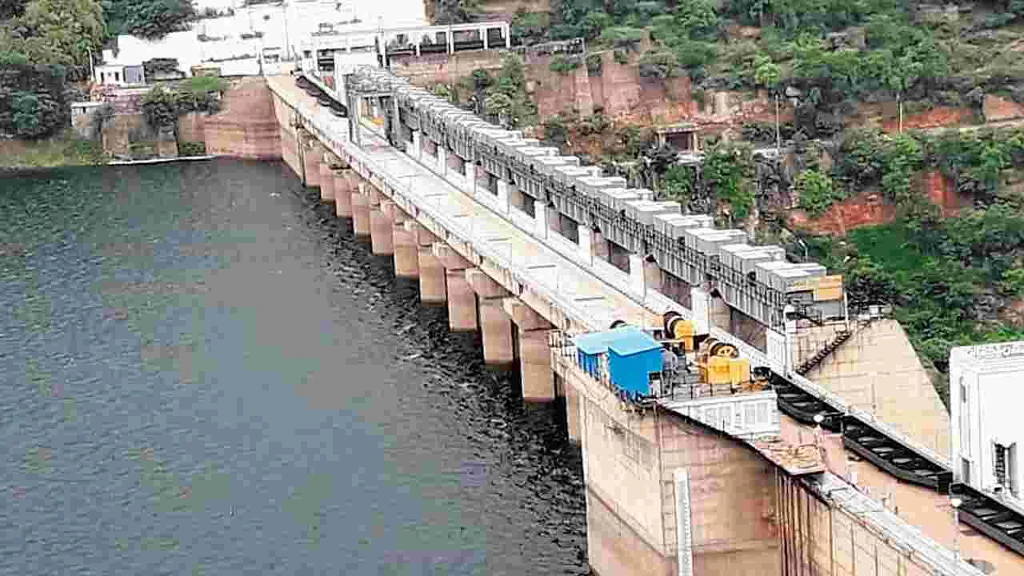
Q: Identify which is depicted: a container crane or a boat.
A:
container crane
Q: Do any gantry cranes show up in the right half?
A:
No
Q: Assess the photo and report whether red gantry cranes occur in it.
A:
No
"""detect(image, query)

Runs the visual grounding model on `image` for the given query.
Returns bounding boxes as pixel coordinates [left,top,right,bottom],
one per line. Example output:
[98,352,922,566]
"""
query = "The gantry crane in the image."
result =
[342,68,397,145]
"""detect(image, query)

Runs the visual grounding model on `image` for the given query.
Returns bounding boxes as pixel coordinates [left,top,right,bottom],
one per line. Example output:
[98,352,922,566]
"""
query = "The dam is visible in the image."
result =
[251,65,1024,576]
